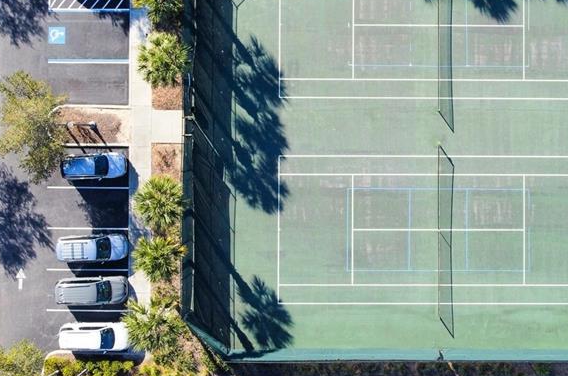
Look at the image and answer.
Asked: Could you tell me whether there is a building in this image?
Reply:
No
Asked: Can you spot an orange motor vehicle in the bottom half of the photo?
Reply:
No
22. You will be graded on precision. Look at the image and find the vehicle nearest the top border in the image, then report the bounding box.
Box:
[62,149,130,180]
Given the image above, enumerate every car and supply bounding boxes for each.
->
[59,231,131,263]
[62,149,130,180]
[58,276,130,308]
[61,320,134,353]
